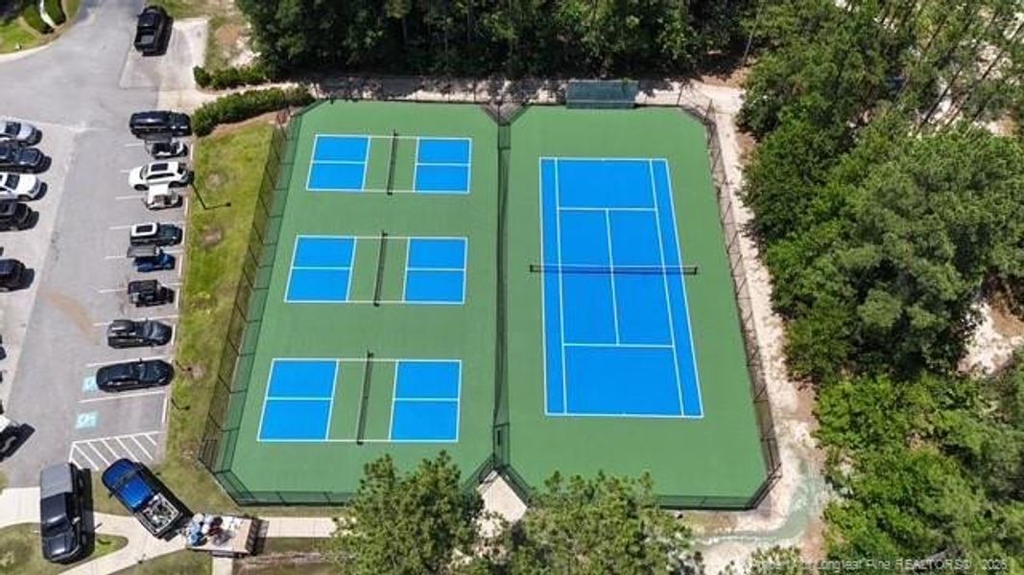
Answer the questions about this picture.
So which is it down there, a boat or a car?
car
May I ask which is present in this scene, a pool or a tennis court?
tennis court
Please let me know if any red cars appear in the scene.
No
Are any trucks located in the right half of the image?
No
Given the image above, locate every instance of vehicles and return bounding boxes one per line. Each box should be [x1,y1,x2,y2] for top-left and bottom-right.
[0,142,51,173]
[0,117,45,146]
[93,356,174,393]
[127,108,193,140]
[109,461,192,539]
[128,247,174,276]
[133,7,170,53]
[36,462,85,564]
[120,222,184,252]
[147,137,188,163]
[0,170,47,200]
[0,422,24,451]
[0,200,36,232]
[141,182,182,209]
[129,159,192,189]
[102,317,174,352]
[0,257,30,291]
[124,281,173,310]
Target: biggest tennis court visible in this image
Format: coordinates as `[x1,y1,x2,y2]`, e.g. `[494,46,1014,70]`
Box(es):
[494,105,766,508]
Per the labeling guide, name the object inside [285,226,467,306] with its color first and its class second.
blue sports court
